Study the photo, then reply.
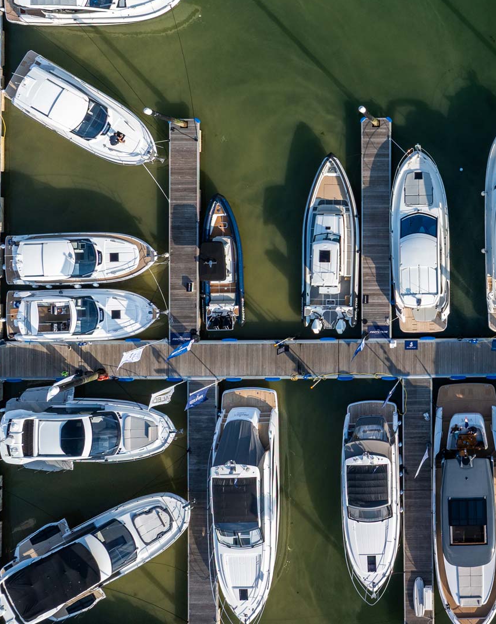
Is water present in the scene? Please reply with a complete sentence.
Yes, water shows up in the scene.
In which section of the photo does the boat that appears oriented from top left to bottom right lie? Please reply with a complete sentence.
The boat that appears oriented from top left to bottom right is located in the top left region of the scene.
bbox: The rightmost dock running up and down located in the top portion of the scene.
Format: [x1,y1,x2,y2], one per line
[360,115,394,339]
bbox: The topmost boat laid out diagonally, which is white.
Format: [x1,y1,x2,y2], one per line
[6,51,165,165]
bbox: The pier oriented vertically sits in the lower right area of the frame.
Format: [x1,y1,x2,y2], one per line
[404,377,435,624]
